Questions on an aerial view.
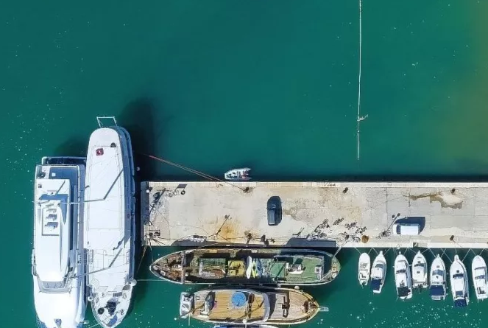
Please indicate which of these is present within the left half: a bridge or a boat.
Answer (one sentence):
The feature located within the left half is a boat.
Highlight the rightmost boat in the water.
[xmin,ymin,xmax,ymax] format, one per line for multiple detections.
[471,248,488,299]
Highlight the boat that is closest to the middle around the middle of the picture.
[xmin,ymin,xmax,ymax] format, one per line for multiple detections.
[225,167,255,180]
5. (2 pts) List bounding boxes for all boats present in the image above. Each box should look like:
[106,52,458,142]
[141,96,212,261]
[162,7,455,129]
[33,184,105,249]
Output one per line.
[471,248,488,299]
[393,248,413,301]
[429,249,448,303]
[445,249,470,308]
[180,238,343,327]
[358,248,370,289]
[225,167,255,180]
[30,152,88,328]
[148,237,343,285]
[369,248,386,296]
[181,292,192,321]
[411,248,428,291]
